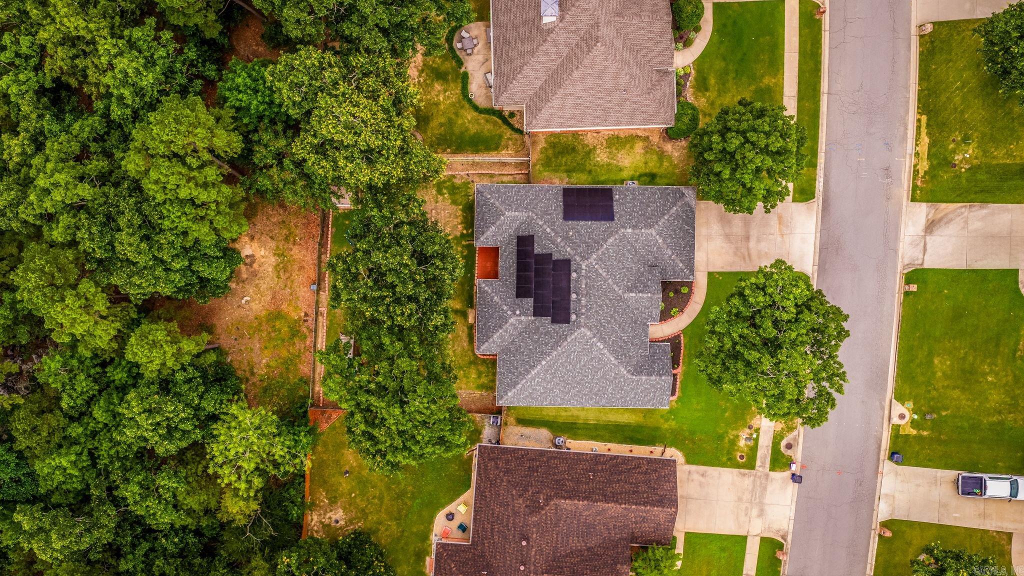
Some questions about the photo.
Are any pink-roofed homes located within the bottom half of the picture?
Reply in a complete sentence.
No, I see no pink-roofed home within the bottom half of the picture.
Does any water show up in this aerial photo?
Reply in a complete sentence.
No, the picture contains no water.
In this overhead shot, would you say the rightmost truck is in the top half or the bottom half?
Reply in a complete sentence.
It is in the bottom half that the rightmost truck appears.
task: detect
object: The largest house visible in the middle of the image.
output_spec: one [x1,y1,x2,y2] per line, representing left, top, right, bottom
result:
[474,183,696,408]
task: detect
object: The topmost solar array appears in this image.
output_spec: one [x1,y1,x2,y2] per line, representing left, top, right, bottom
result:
[563,188,614,221]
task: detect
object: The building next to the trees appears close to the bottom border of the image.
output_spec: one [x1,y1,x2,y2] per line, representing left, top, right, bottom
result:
[431,439,678,576]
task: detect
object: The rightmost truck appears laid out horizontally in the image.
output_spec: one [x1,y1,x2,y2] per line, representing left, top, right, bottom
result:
[952,470,1024,502]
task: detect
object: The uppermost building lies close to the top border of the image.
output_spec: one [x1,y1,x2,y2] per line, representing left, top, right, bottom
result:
[491,0,679,136]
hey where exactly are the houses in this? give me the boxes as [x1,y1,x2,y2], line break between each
[431,439,678,576]
[474,183,696,408]
[491,0,679,136]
